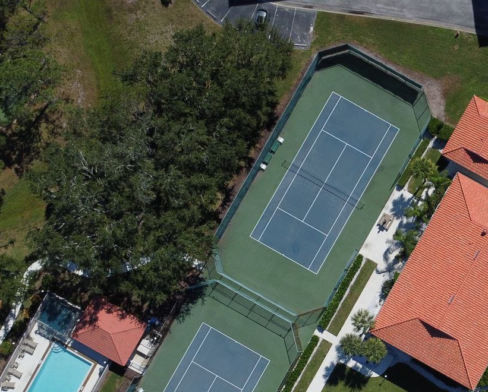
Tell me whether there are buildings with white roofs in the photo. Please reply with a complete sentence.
No, the photo shows no building with a white roof.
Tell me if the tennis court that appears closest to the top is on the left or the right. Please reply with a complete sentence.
It is on the right.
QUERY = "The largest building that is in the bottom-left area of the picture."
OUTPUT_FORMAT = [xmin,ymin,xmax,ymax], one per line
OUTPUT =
[71,302,149,366]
